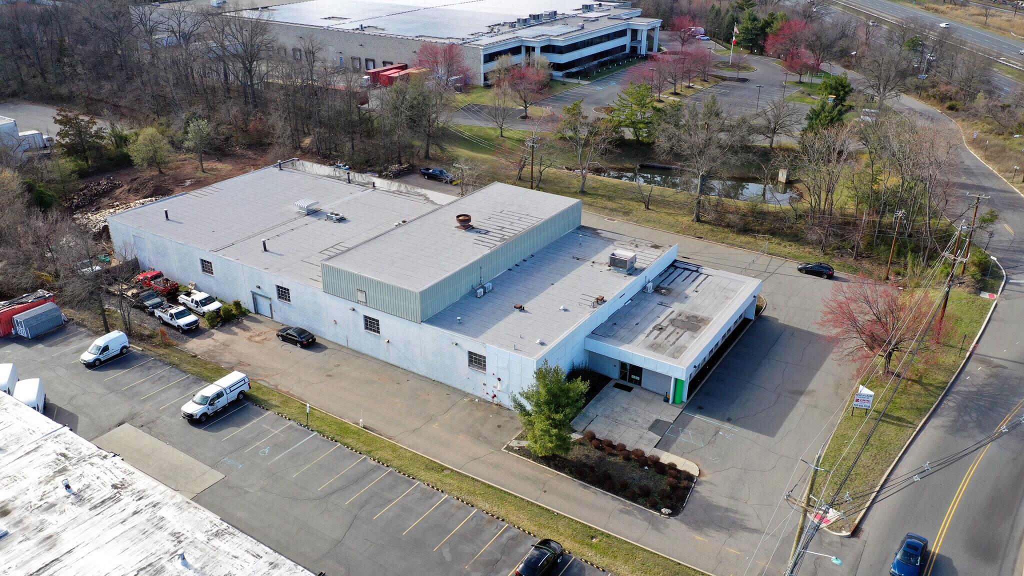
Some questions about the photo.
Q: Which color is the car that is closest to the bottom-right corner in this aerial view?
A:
blue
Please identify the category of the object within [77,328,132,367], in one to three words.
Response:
van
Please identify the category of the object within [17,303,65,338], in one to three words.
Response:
shed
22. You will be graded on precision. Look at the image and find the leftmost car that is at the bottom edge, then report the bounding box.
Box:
[517,532,567,576]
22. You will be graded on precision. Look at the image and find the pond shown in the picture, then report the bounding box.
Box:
[565,165,802,203]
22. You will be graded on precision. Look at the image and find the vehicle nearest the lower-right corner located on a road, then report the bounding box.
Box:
[888,531,930,576]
